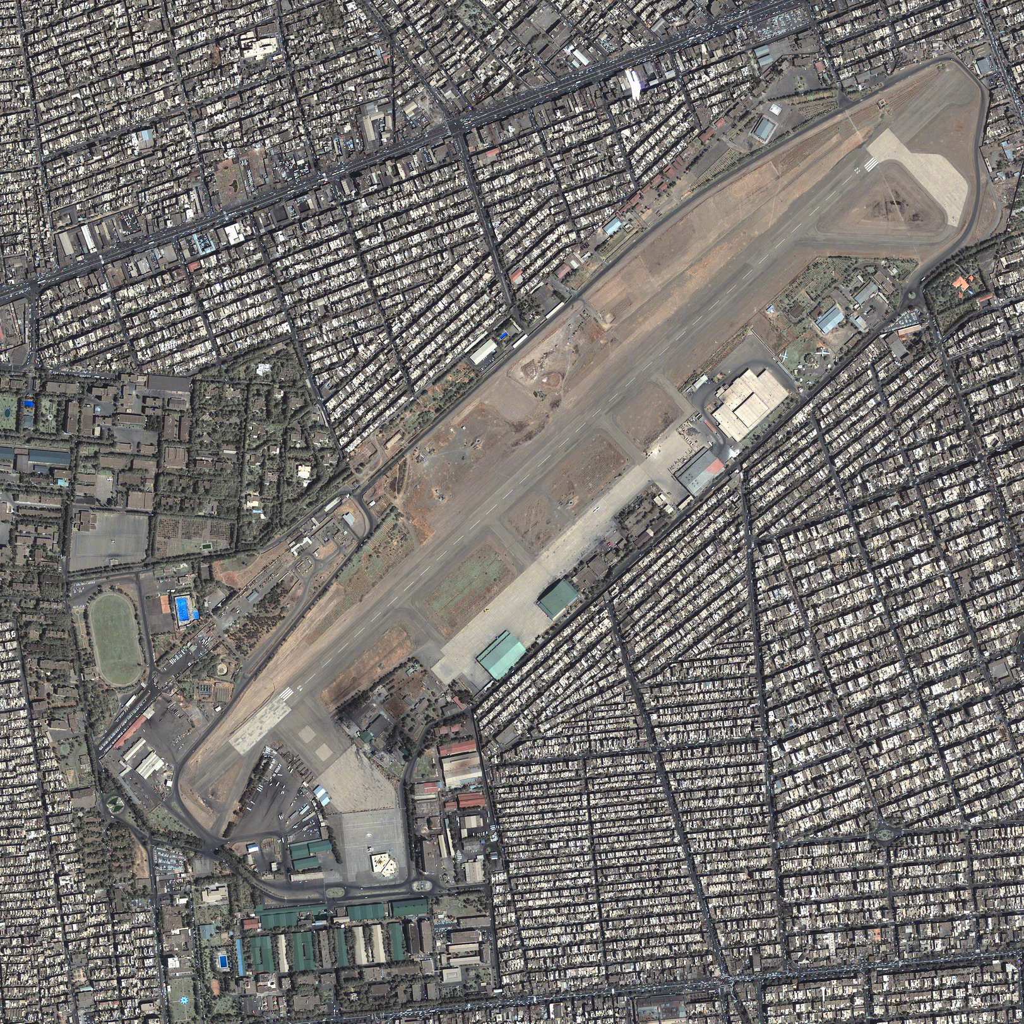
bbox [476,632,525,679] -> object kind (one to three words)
hangar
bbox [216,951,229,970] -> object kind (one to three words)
swimming pool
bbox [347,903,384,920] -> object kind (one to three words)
building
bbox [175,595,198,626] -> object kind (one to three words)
swimming pool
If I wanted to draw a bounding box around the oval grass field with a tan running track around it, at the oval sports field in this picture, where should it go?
[86,589,147,689]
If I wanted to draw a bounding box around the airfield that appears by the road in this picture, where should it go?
[181,61,982,886]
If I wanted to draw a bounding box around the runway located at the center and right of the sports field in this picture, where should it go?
[275,152,876,708]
